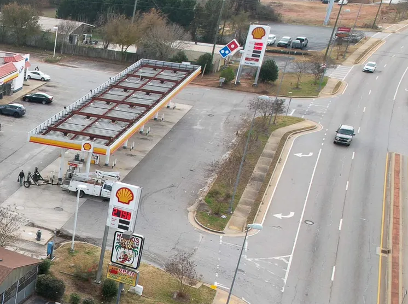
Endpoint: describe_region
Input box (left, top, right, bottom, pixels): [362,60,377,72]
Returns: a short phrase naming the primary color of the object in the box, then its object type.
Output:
white vehicle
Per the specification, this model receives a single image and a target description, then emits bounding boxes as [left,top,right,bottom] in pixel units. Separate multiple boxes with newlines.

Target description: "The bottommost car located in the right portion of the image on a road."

[335,122,357,144]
